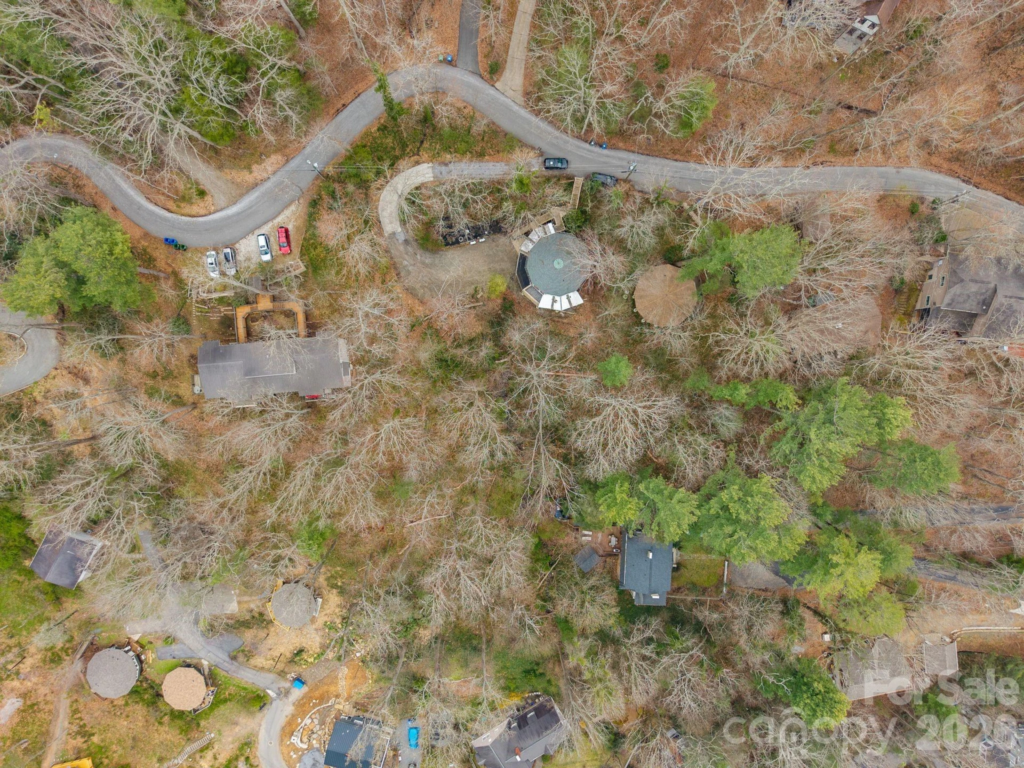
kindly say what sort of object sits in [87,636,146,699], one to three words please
house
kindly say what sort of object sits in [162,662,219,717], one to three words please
house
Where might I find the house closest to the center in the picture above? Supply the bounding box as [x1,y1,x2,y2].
[516,222,591,314]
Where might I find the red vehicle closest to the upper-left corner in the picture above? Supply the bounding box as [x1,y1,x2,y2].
[275,224,290,254]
